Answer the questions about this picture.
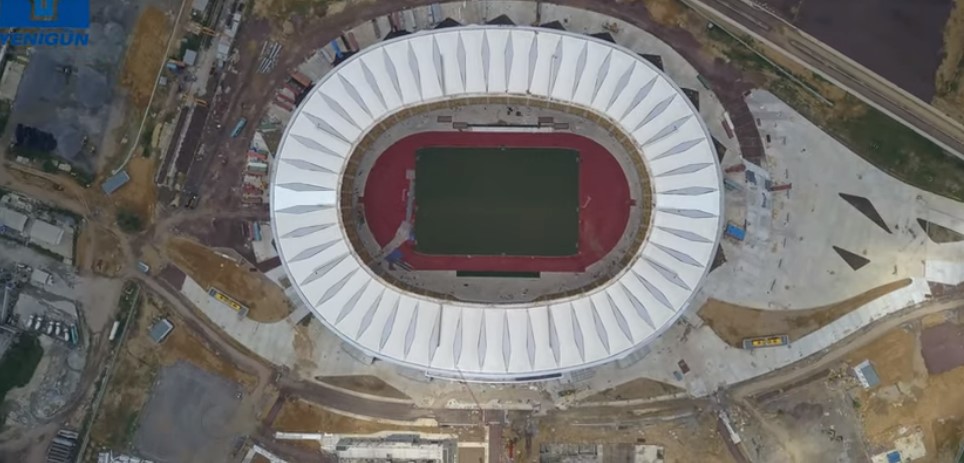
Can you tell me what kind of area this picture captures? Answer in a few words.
sports ground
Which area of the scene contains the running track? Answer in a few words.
center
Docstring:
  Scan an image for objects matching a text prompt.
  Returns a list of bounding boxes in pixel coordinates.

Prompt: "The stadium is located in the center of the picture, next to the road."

[271,26,723,387]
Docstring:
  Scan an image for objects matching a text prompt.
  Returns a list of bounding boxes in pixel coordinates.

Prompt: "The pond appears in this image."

[0,335,43,420]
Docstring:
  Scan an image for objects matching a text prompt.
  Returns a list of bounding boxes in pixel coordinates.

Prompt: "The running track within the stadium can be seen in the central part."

[360,131,635,272]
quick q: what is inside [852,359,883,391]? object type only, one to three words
shed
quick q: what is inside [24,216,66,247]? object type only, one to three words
house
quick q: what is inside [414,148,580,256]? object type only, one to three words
soccer field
